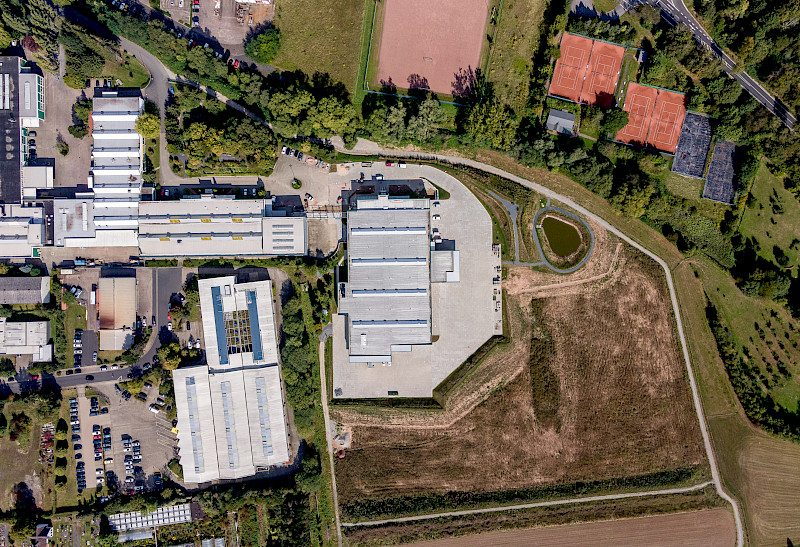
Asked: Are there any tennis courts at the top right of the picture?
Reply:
Yes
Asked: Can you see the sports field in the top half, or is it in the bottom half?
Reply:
top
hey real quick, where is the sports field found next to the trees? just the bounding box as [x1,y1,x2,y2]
[378,0,489,97]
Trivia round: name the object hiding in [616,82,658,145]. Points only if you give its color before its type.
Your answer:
red tennis court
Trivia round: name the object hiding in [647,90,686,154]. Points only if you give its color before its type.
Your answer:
red tennis court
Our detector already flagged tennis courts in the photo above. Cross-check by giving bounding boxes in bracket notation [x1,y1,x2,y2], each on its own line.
[580,41,626,108]
[616,82,658,145]
[647,90,686,154]
[673,112,709,177]
[549,34,594,102]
